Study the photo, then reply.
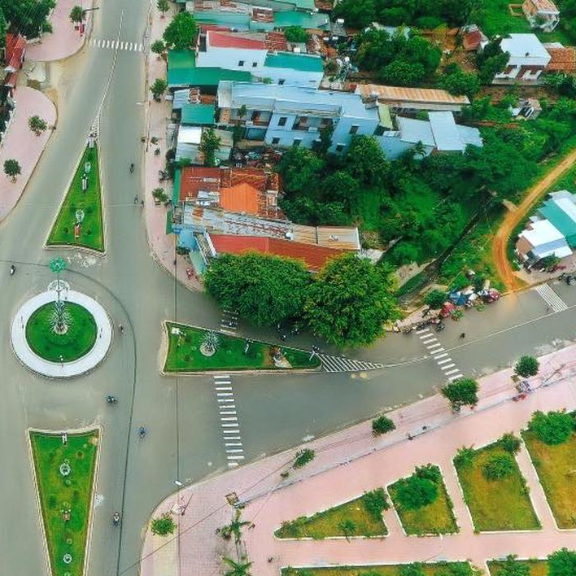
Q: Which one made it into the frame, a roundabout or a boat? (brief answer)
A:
roundabout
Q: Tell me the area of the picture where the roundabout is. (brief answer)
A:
left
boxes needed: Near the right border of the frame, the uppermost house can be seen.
[515,0,561,31]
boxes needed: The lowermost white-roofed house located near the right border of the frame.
[507,219,573,266]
